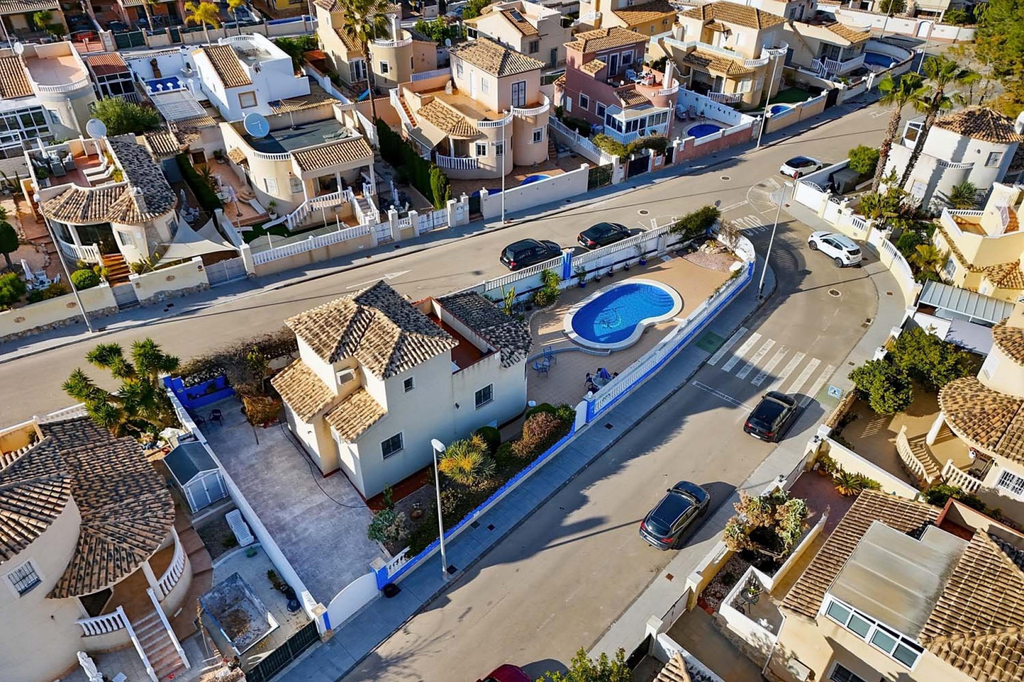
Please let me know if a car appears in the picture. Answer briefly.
Yes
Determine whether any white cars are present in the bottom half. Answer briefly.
No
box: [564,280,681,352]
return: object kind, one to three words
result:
swimming pool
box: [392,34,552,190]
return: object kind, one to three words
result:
house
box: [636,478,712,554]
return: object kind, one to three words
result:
car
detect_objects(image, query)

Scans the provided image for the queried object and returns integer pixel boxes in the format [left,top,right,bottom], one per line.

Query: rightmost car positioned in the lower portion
[742,388,802,447]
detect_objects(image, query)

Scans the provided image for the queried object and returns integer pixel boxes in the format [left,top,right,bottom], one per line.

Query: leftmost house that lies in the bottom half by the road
[0,417,193,682]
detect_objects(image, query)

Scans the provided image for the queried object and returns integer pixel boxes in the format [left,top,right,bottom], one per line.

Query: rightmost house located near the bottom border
[766,489,1024,682]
